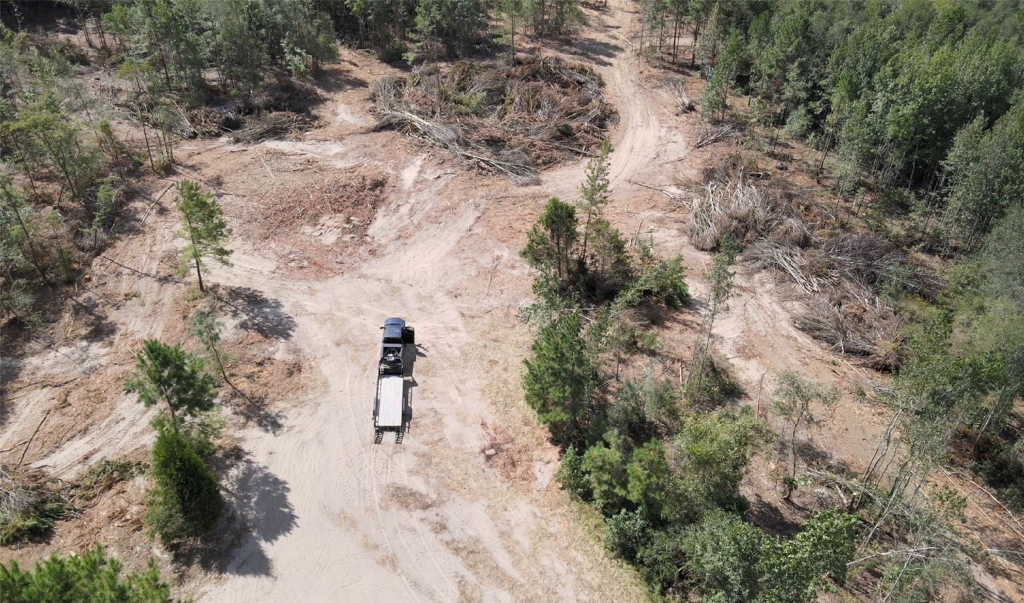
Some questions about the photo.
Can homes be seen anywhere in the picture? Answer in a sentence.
No, there is no home in the image.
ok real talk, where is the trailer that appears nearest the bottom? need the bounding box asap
[369,343,408,447]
